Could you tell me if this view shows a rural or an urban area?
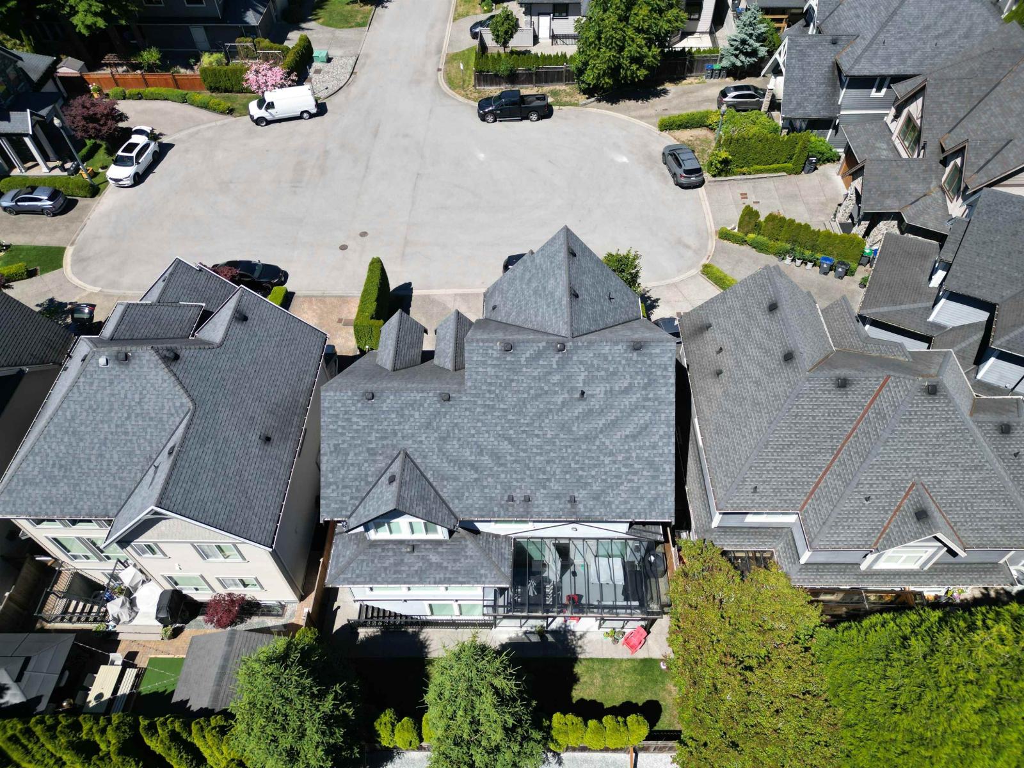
urban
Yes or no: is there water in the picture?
No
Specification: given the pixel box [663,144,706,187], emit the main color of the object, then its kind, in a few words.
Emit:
gray car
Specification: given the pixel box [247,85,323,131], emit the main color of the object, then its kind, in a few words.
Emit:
white van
